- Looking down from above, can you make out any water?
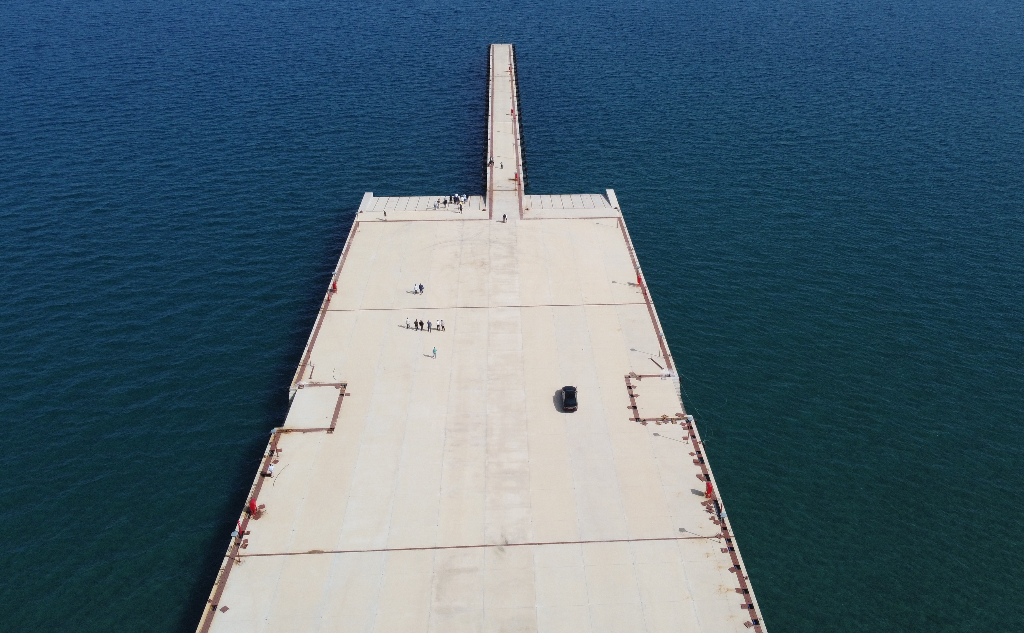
Yes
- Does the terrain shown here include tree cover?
No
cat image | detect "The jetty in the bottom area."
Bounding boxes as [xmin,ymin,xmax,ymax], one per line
[196,208,767,633]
